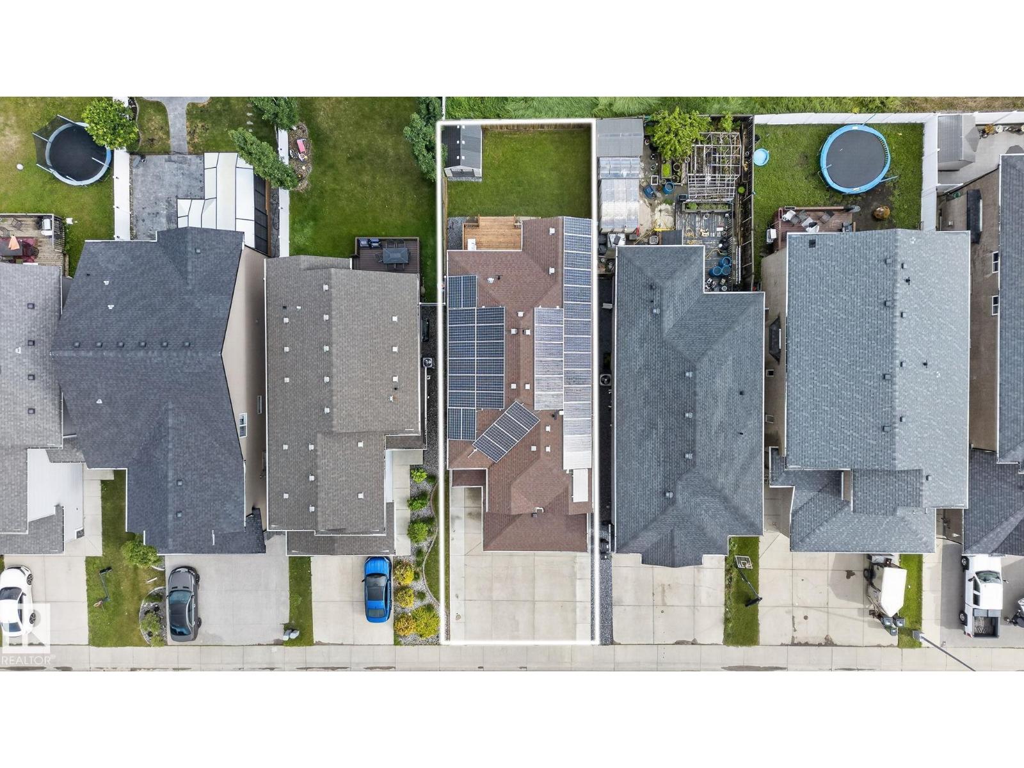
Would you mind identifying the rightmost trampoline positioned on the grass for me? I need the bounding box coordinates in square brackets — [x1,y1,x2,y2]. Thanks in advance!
[815,117,899,195]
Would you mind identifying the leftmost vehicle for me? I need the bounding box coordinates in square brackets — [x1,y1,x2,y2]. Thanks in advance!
[0,563,38,637]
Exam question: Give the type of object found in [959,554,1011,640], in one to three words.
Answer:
truck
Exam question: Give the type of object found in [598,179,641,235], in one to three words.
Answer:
greenhouse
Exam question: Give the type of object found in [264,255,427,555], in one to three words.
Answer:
house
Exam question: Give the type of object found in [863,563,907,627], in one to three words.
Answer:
trailer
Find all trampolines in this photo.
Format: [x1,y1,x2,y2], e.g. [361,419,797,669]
[28,110,114,191]
[815,117,899,195]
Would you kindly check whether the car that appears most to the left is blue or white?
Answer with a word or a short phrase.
white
